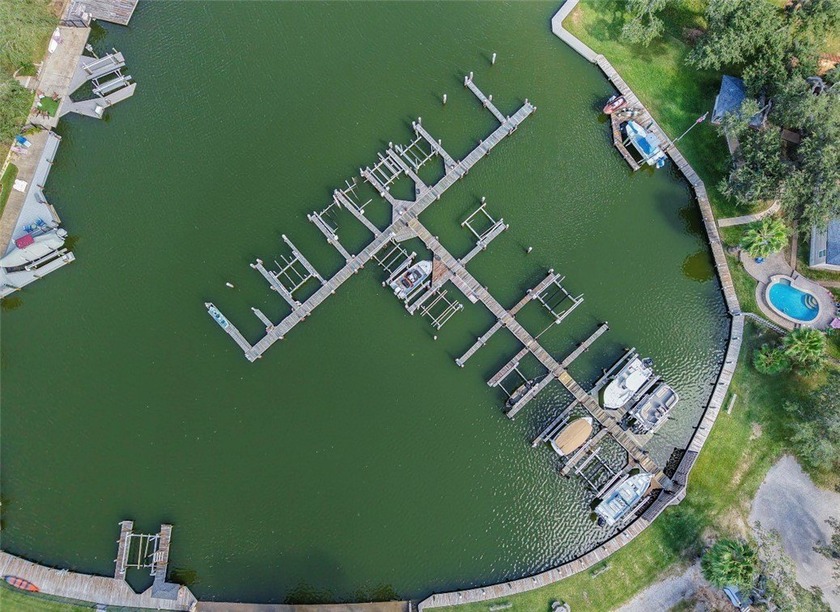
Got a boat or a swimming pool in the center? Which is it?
boat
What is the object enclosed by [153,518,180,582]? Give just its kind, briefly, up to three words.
pier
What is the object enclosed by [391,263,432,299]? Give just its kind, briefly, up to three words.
boat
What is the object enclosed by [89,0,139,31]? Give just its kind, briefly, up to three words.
pier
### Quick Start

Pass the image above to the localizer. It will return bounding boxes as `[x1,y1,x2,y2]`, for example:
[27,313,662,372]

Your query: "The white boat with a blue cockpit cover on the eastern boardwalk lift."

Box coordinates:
[627,121,667,170]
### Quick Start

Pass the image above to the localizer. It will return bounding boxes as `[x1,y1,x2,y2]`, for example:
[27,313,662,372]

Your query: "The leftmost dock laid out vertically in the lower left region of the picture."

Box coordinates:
[113,517,140,580]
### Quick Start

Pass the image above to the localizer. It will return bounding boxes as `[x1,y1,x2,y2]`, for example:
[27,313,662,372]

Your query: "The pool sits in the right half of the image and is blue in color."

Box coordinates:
[765,276,823,327]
